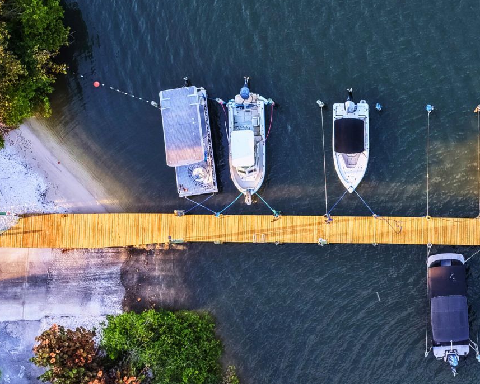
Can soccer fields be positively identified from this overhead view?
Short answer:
No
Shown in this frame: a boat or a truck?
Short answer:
boat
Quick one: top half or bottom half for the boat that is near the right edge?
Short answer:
bottom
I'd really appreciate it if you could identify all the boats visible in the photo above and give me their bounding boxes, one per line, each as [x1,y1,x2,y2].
[332,86,370,193]
[429,253,469,379]
[228,73,266,205]
[159,73,221,197]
